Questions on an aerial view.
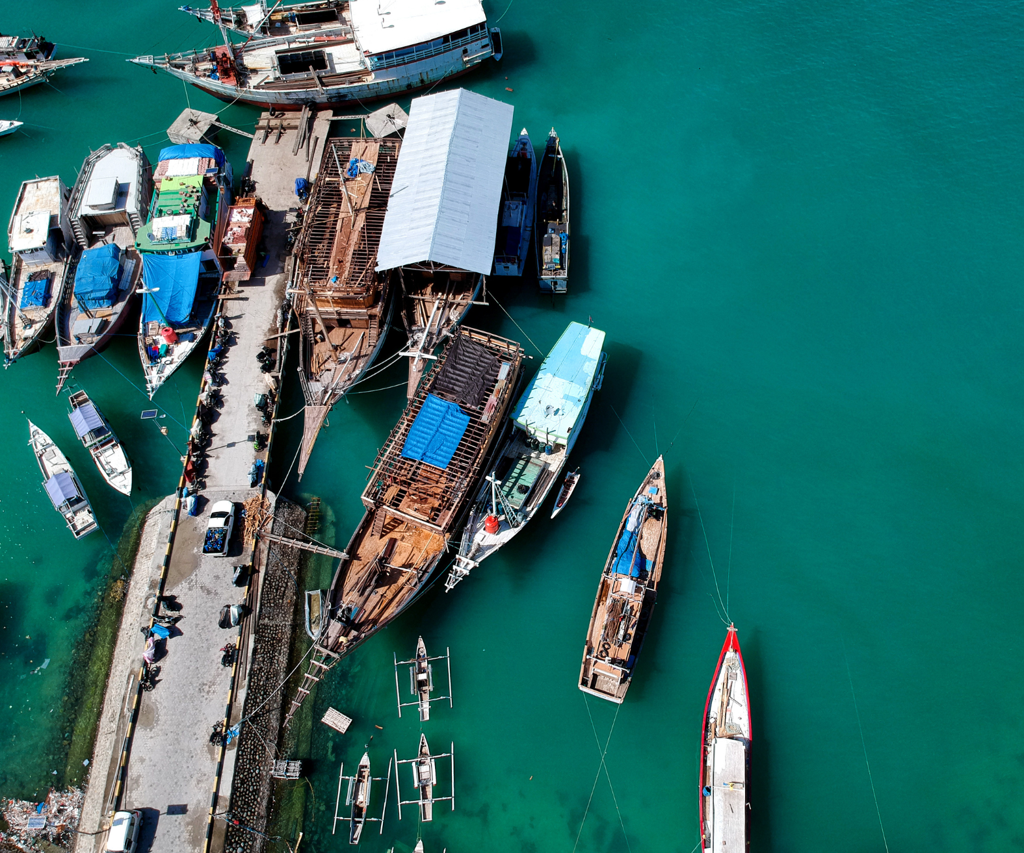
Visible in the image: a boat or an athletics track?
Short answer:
boat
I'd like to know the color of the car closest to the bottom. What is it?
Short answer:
white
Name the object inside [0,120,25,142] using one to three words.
boat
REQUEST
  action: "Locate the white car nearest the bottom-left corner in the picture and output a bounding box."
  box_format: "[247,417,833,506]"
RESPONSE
[105,814,140,853]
